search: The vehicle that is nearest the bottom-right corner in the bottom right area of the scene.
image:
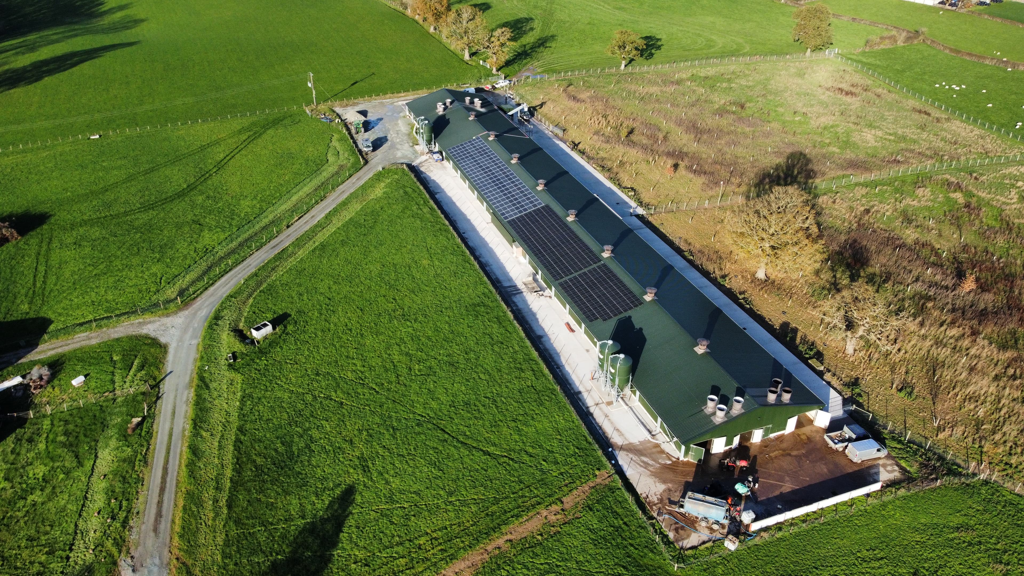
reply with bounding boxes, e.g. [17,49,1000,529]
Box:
[845,437,890,463]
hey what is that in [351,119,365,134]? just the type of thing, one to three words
work vehicle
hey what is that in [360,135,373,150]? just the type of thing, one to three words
vehicle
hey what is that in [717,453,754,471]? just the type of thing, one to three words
work vehicle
